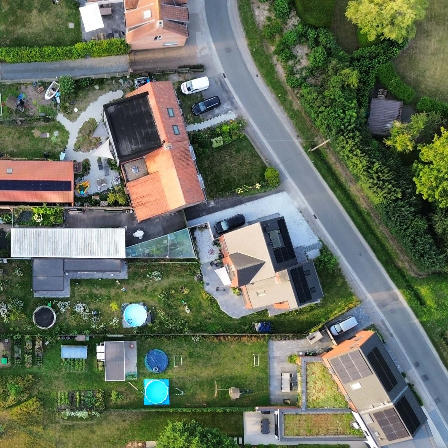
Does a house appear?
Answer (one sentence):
Yes, looking at the shot, I can spot a house.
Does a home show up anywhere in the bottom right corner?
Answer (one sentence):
Yes, the scene does show a home in the bottom right corner.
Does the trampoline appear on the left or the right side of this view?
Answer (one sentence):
You can find the trampoline on the left side of the picture.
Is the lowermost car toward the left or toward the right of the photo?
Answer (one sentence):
You can find the lowermost car on the right side of the picture.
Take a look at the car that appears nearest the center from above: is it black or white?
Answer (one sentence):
The car that appears nearest the center is black.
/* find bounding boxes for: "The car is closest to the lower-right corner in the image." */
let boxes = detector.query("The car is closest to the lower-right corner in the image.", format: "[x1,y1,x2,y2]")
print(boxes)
[327,316,361,336]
